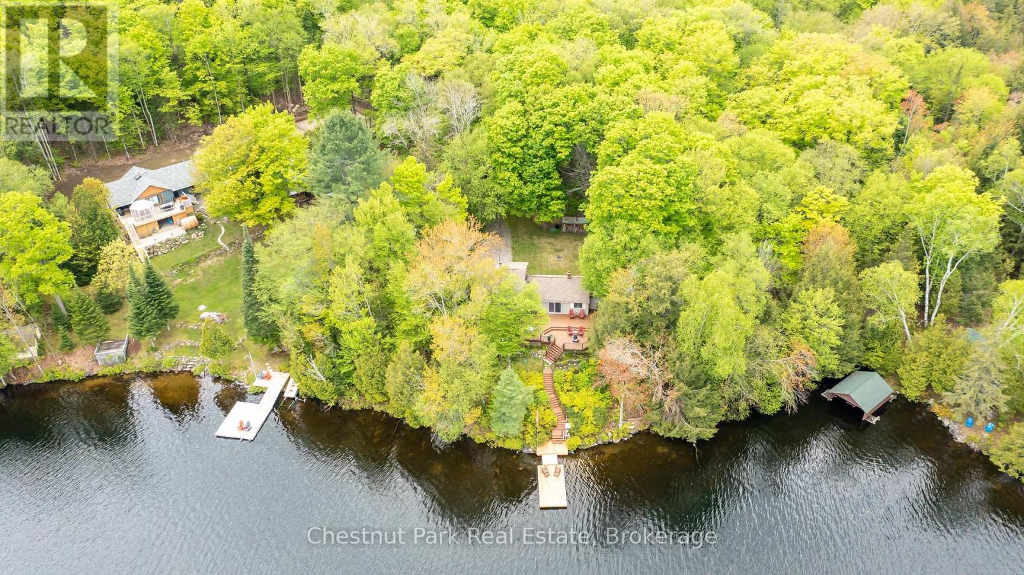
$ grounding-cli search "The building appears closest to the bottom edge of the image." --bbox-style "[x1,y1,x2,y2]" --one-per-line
[821,372,894,441]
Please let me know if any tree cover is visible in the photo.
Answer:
Yes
